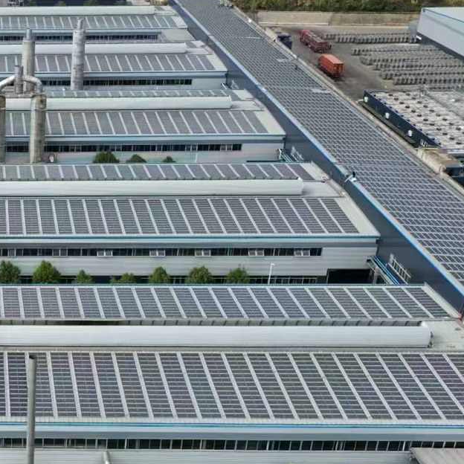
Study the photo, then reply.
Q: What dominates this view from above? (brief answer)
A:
buildings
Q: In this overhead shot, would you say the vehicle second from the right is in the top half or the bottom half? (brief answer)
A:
top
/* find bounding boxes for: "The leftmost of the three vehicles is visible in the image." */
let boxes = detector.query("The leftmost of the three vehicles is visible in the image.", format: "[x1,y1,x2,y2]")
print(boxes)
[277,35,293,48]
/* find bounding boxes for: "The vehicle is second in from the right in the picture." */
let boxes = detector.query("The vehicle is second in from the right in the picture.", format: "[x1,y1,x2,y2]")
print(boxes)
[295,29,333,49]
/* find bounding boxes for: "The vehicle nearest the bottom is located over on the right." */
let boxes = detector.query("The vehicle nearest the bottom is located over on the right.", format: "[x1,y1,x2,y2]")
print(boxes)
[322,50,345,73]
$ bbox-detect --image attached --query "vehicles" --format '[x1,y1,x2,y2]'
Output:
[295,29,333,49]
[277,35,293,48]
[322,50,345,73]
